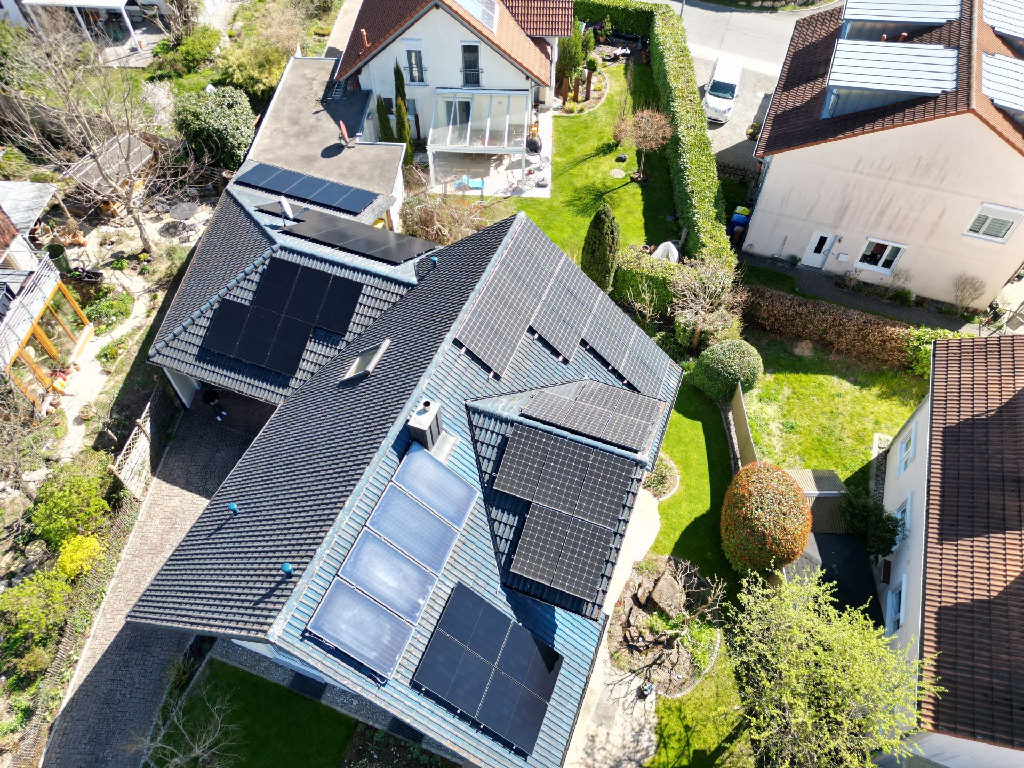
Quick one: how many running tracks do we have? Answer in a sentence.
The photo contains no running tracks.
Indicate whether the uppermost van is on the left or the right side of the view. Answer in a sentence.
It is on the right.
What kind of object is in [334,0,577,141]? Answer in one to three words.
house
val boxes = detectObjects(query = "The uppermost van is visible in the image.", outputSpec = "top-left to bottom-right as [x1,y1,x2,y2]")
[705,54,745,122]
